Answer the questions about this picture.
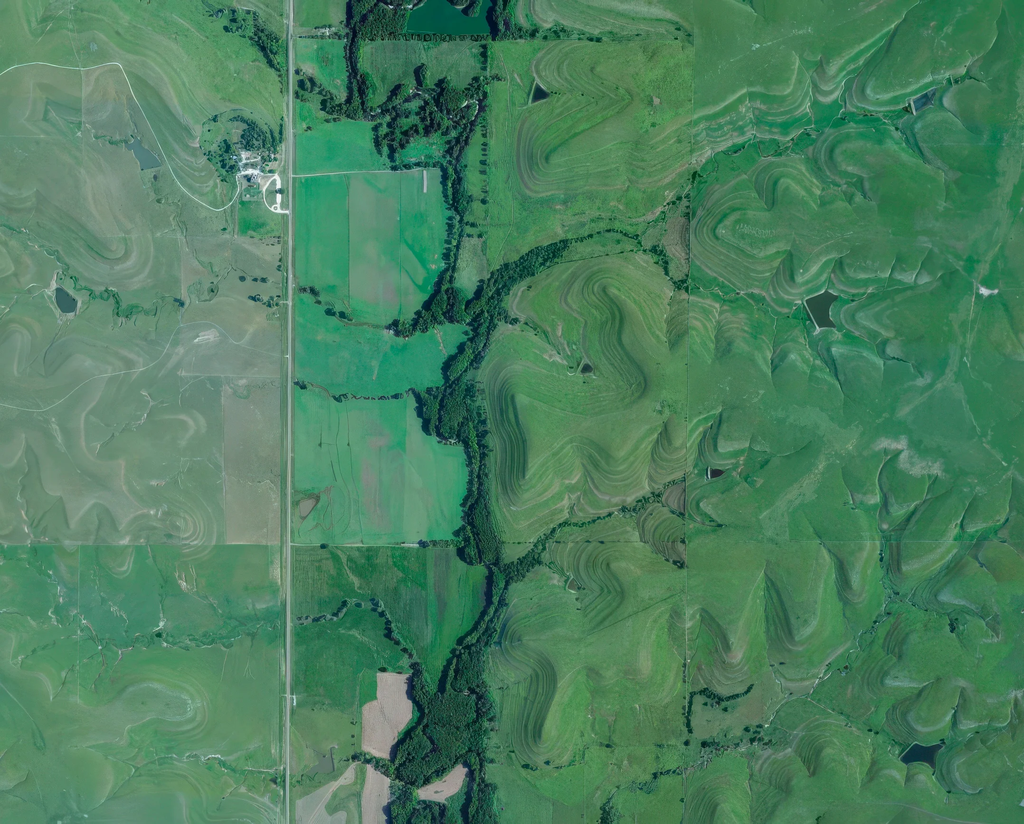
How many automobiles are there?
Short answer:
none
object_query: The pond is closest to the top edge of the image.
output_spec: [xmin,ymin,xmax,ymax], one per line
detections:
[404,0,492,34]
